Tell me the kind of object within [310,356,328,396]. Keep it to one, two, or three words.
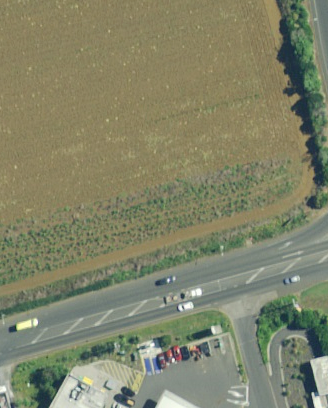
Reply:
house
